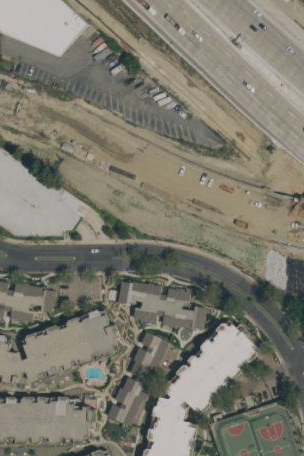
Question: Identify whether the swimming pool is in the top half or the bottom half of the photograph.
bottom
